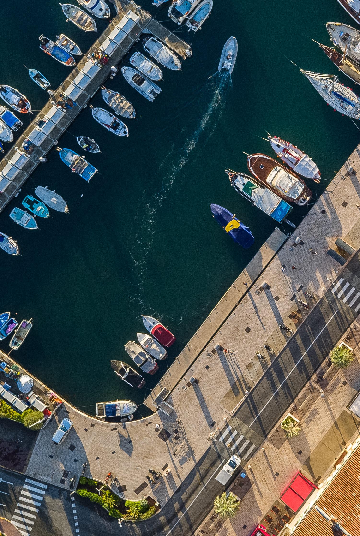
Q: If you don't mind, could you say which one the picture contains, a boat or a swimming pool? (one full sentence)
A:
Visible in the photo is a boat.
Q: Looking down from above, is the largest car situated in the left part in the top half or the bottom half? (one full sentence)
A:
It is in the bottom half that the largest car situated in the left part appears.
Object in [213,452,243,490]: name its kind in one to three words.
truck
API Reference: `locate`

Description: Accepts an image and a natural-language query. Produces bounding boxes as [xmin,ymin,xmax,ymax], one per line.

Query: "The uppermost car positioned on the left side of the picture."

[51,415,74,448]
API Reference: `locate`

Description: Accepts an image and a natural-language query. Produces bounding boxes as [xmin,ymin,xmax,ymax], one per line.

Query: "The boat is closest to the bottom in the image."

[96,400,137,417]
